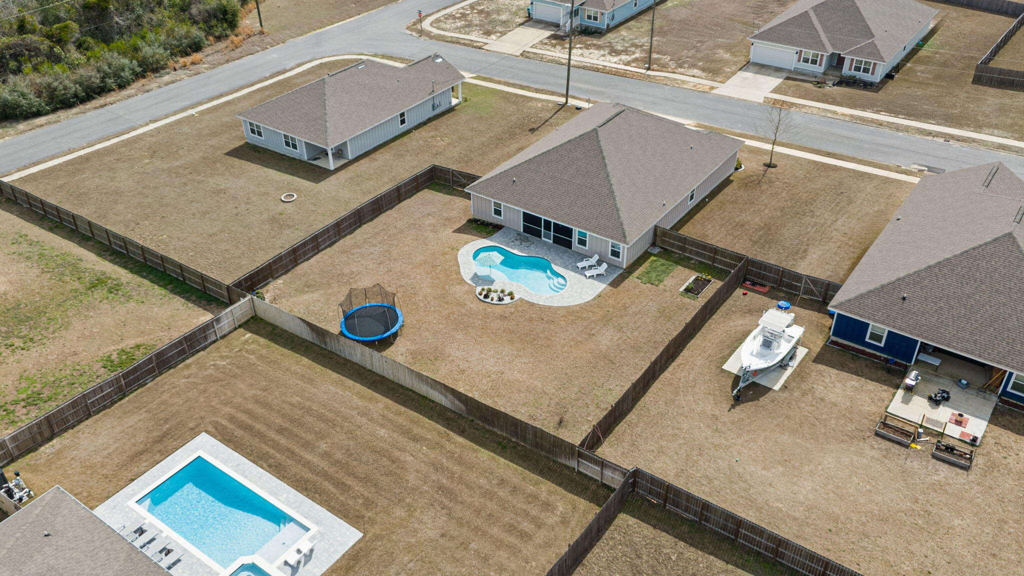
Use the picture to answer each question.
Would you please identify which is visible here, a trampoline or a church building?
trampoline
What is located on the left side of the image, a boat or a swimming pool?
swimming pool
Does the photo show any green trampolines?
No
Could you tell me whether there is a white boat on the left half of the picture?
No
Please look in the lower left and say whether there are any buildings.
Yes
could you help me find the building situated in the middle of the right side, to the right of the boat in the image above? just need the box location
[827,159,1024,407]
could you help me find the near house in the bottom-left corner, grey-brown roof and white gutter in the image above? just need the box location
[0,484,174,576]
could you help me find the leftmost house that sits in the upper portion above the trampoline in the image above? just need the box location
[236,51,465,170]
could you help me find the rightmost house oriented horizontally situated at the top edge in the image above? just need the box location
[747,0,938,82]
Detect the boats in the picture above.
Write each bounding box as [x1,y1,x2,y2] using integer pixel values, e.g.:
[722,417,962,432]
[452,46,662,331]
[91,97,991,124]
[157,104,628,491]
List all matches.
[739,305,800,372]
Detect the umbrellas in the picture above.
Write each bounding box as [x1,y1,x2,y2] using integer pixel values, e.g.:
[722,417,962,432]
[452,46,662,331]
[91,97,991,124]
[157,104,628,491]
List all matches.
[477,245,508,277]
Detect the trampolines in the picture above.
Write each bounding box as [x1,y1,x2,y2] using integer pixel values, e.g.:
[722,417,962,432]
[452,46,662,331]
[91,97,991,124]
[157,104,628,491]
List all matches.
[337,284,403,349]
